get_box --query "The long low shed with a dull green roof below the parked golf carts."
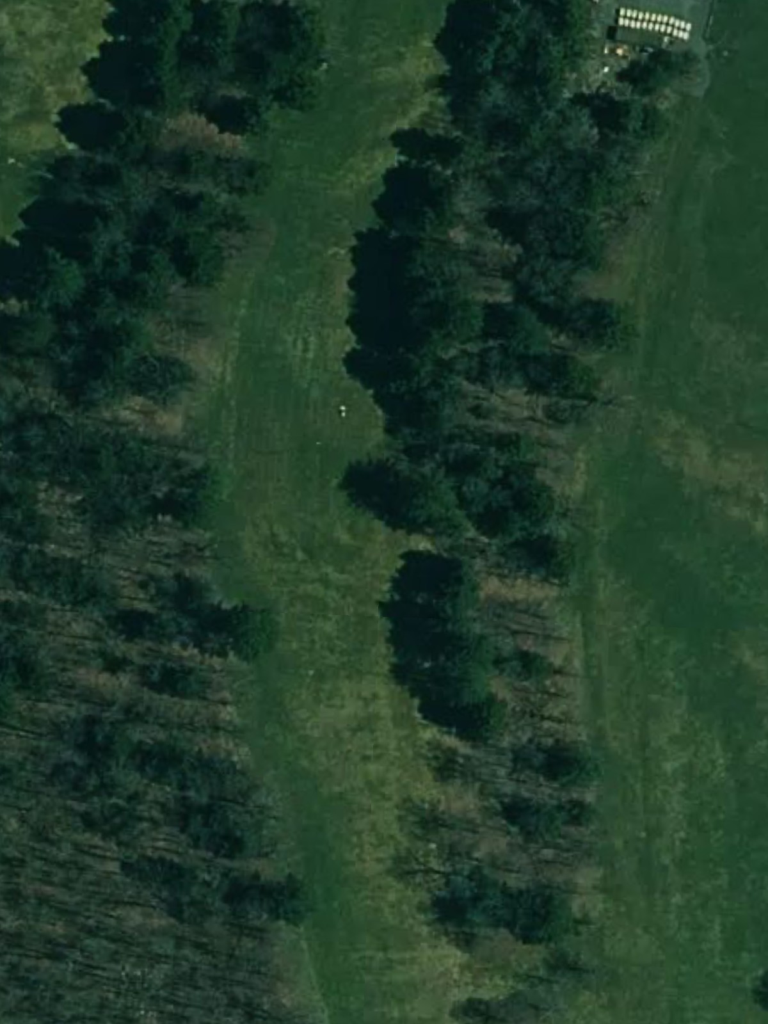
[615,25,663,45]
